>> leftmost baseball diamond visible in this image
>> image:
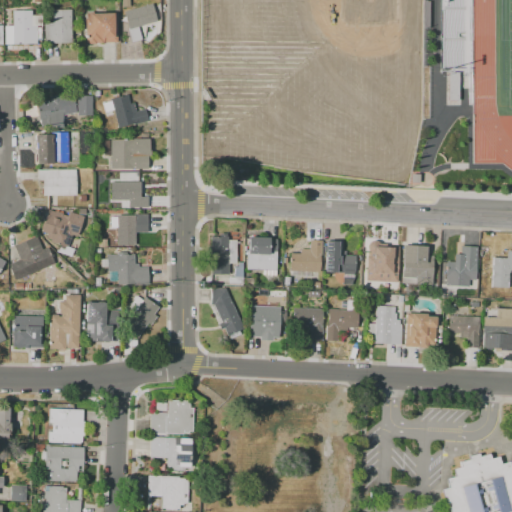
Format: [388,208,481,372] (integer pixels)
[204,0,422,184]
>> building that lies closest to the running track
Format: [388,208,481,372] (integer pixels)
[450,72,462,100]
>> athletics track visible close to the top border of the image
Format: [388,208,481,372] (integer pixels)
[473,0,512,170]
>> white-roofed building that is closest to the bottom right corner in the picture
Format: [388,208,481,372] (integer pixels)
[448,454,512,512]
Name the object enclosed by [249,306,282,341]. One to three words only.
house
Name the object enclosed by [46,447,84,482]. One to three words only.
house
